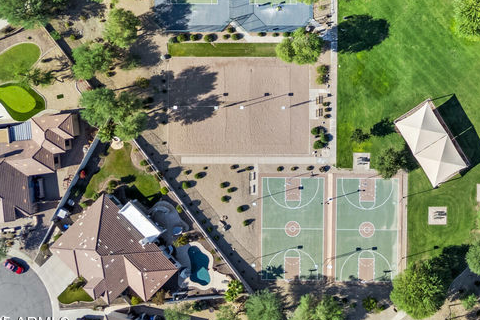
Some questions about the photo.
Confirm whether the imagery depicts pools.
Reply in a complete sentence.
Yes, looking at the shot, I can spot a pool.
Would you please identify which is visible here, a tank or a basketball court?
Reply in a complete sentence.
Of the two, only a basketball court appears.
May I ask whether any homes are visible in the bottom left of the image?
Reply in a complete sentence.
Yes, you'll find a home in the bottom left of the image.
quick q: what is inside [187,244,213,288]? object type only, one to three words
swimming pool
